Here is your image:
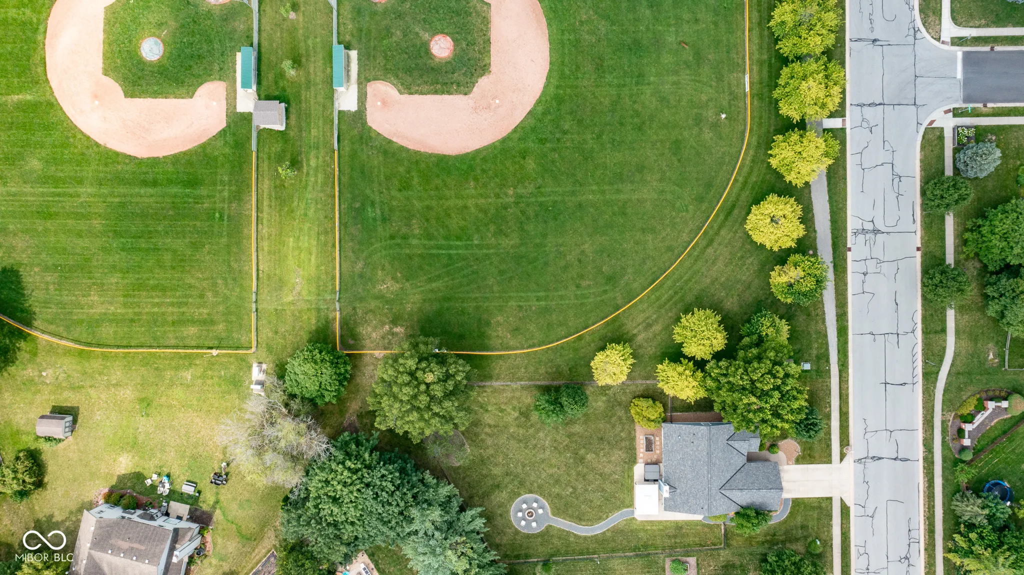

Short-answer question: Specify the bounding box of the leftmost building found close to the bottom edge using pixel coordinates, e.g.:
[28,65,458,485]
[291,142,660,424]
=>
[72,502,206,575]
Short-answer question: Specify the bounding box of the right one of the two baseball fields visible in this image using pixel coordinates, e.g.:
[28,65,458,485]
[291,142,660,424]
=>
[338,0,748,352]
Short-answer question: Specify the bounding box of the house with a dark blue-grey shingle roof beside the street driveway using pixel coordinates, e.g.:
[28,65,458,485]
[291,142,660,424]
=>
[655,422,783,516]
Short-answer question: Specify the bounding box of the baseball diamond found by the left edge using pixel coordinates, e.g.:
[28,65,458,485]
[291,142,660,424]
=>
[0,0,257,350]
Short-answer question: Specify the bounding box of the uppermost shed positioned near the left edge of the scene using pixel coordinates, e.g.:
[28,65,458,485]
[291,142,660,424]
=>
[35,414,82,438]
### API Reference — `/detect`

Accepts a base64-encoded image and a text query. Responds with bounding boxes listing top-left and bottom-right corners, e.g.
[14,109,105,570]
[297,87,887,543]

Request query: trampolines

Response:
[984,476,1020,506]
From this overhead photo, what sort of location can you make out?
sports ground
